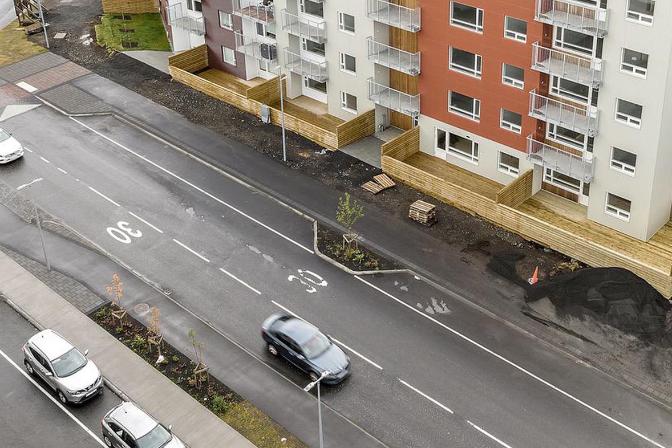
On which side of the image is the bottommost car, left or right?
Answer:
left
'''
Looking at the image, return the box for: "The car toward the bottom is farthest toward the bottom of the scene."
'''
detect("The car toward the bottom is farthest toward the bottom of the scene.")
[95,396,189,448]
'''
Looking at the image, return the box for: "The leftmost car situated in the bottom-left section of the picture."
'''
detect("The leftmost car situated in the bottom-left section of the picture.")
[19,331,102,405]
